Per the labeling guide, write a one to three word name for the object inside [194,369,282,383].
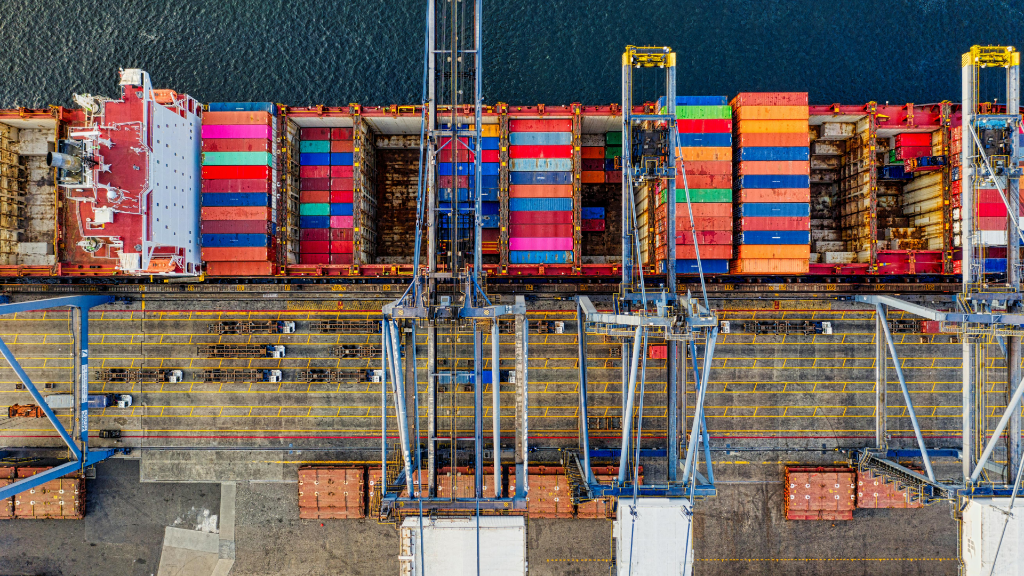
vehicle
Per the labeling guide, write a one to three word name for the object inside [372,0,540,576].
container crane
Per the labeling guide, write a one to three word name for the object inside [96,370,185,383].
vehicle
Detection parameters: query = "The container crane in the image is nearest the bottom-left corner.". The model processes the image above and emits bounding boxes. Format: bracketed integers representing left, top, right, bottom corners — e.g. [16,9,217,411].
[0,295,134,501]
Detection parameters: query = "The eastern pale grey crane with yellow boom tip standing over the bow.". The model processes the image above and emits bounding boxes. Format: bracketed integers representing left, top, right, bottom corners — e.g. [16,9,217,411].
[826,41,1024,576]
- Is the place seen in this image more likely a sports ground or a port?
port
